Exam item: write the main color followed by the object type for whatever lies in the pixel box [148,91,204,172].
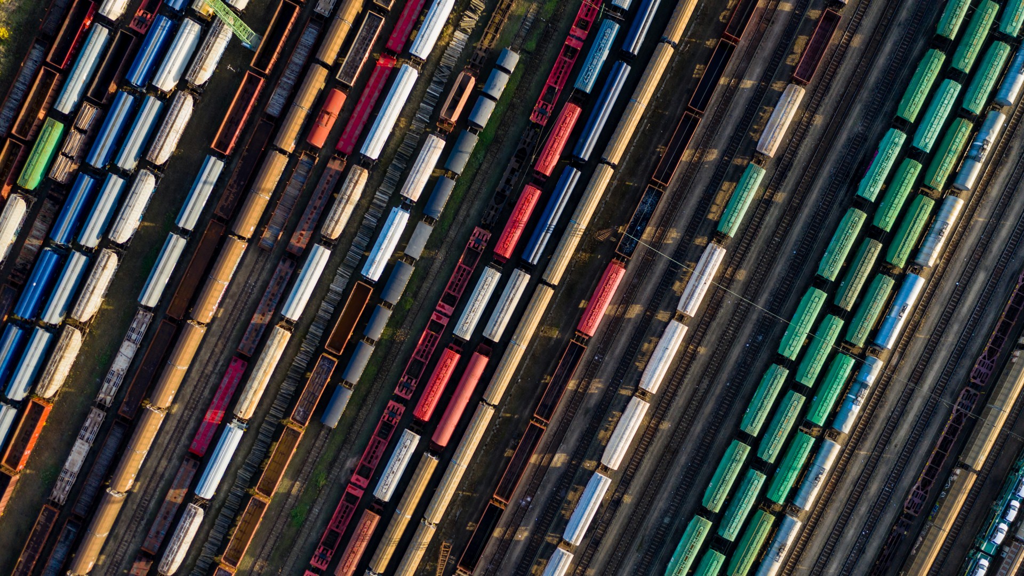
white rail car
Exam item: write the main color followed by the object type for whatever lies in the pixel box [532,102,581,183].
red rail car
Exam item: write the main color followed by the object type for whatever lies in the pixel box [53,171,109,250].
blue rail car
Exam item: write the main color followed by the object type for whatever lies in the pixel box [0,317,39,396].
blue rail car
